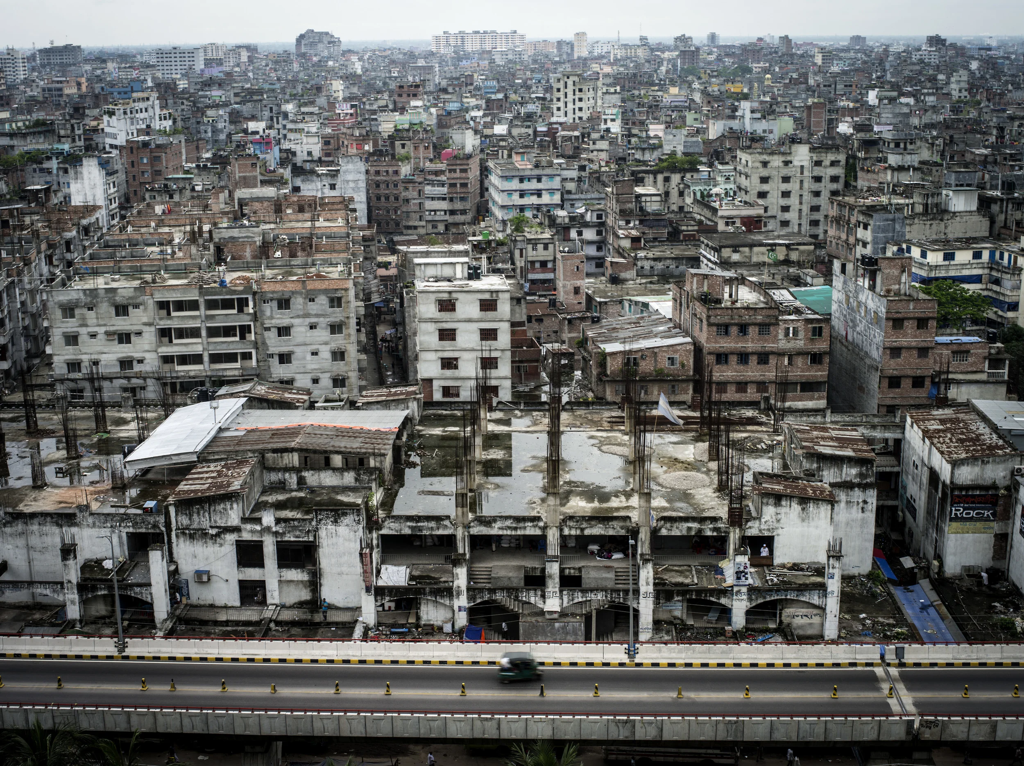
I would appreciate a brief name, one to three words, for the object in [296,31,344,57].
building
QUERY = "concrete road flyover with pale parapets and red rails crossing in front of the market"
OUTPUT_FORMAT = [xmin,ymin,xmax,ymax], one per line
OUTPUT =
[0,633,1024,766]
